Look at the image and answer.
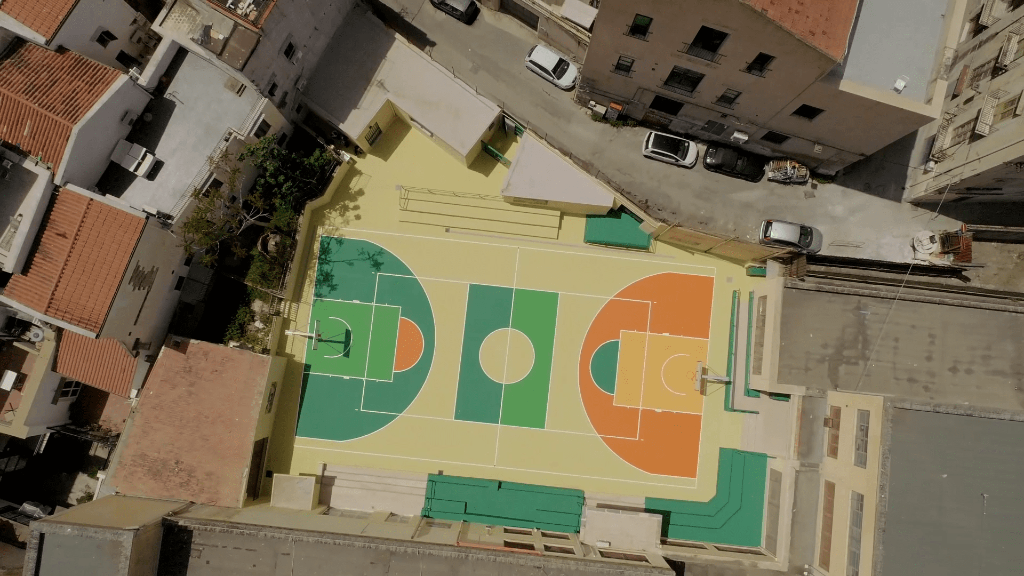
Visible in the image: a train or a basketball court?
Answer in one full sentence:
There is a basketball court in the scene.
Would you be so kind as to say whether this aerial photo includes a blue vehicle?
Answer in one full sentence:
No, there is no blue vehicle in the image.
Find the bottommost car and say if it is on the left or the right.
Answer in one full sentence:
The bottommost car is on the right side of the image.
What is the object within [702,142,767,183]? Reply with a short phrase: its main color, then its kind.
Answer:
black car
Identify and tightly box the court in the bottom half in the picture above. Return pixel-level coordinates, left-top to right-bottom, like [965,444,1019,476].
[294,226,716,488]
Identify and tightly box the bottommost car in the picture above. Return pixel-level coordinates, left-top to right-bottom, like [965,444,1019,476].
[760,222,821,254]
